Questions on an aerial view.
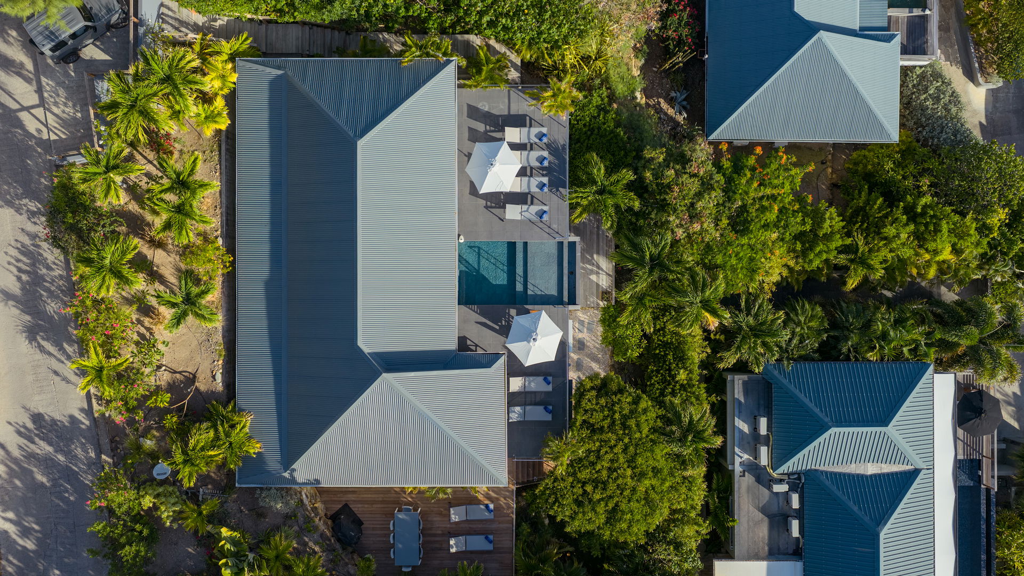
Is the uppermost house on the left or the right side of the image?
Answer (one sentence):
You can find the uppermost house on the right side of the picture.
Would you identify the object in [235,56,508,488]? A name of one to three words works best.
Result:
house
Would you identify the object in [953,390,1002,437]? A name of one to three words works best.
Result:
umbrella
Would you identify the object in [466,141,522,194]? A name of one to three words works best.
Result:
umbrella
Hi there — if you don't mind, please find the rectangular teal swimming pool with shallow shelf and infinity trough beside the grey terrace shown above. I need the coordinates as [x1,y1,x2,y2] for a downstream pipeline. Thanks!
[458,238,580,310]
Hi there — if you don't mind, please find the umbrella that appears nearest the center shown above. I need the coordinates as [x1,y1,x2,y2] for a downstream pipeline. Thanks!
[506,310,563,366]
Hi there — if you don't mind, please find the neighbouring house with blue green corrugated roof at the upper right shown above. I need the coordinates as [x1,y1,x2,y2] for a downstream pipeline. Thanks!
[702,0,901,144]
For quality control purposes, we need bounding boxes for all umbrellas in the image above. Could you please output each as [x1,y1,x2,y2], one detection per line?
[466,141,522,194]
[506,310,563,366]
[953,390,1002,437]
